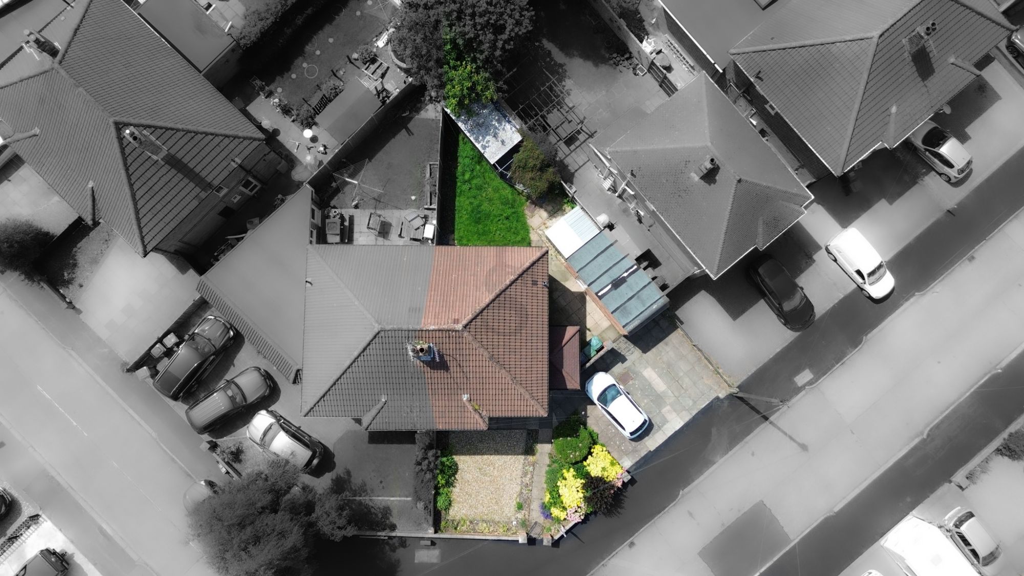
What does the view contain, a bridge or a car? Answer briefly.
car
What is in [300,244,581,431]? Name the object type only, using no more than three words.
house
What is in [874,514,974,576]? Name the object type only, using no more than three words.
camper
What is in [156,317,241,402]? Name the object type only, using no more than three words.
car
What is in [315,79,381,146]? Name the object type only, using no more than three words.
shed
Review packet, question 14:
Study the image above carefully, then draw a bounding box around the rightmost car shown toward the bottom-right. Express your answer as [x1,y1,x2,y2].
[939,505,1009,576]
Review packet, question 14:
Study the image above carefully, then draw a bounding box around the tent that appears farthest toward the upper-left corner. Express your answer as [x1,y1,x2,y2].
[291,159,316,179]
